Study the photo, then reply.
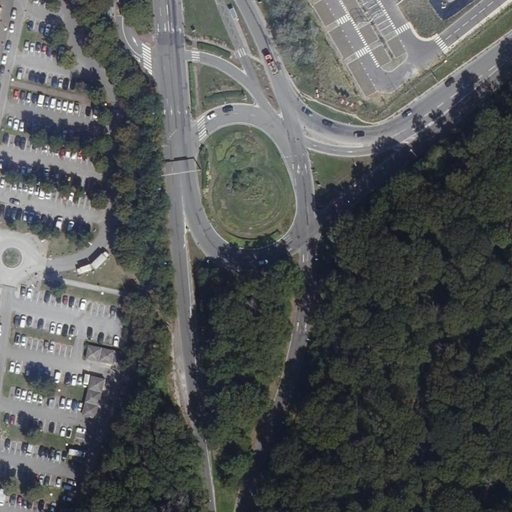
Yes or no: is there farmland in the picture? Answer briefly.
No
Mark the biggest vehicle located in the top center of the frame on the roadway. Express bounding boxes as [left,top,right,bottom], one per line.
[263,52,278,74]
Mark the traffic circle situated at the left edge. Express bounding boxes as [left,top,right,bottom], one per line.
[0,230,48,288]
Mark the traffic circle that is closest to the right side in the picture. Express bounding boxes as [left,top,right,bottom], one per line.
[182,103,314,270]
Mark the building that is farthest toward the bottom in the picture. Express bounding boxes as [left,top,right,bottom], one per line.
[82,376,105,419]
